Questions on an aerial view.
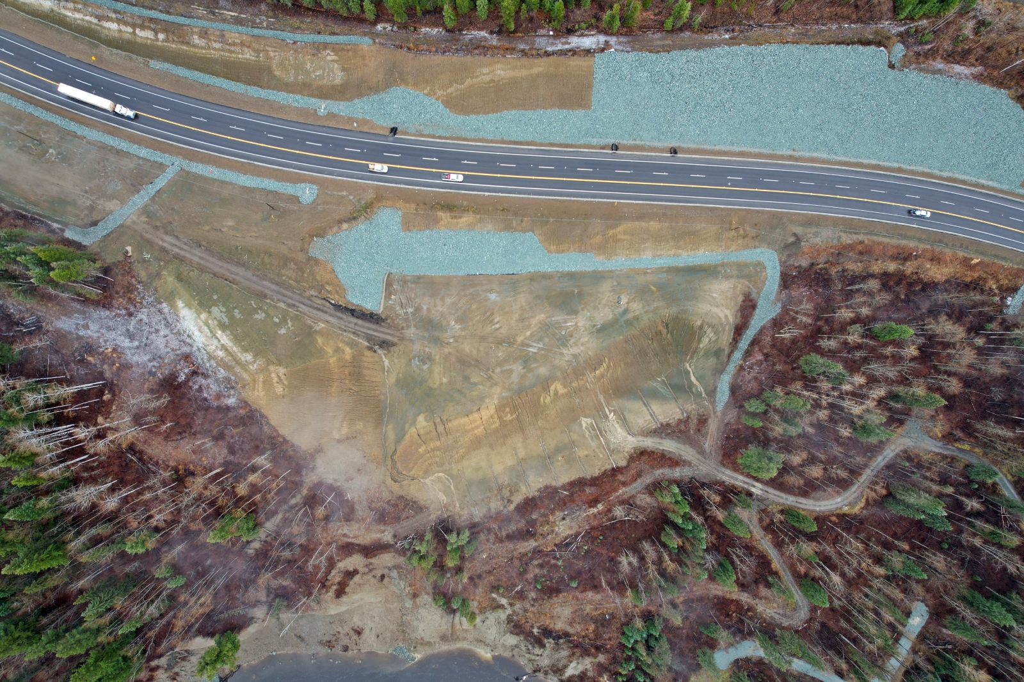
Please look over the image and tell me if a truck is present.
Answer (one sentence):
Yes, a truck can be made out from above.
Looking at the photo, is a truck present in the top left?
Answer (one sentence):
Yes, in the top left there is a truck.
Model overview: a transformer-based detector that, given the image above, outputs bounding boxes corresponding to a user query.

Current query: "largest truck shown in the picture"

[49,79,133,118]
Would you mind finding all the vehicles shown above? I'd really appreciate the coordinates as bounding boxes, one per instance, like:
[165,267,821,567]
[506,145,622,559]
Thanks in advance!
[49,79,133,118]
[366,162,388,172]
[441,172,462,181]
[910,207,932,217]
